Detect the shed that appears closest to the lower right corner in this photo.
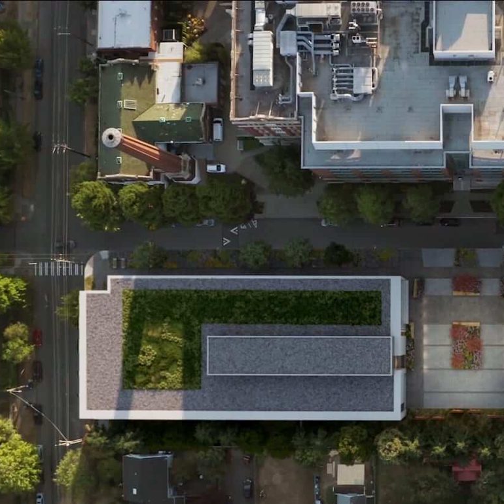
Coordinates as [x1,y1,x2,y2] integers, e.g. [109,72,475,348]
[452,461,481,482]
